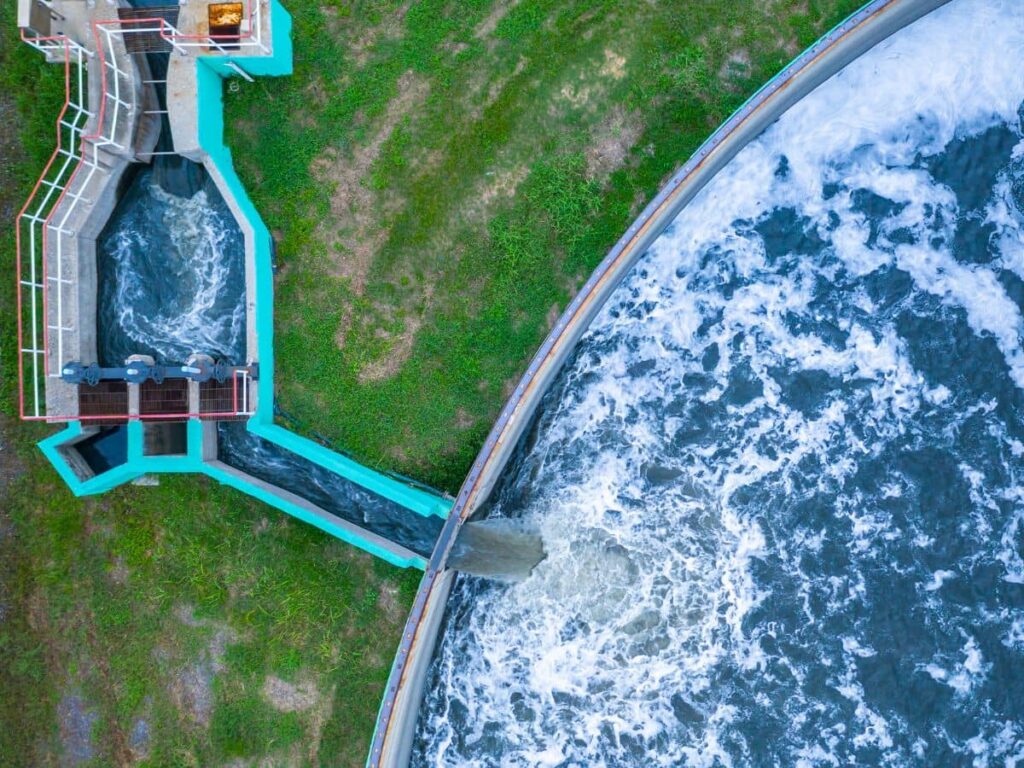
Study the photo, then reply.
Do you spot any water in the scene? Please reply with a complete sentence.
Yes, there is water in the image.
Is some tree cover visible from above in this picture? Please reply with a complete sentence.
No, tree cover can't be seen anywhere here.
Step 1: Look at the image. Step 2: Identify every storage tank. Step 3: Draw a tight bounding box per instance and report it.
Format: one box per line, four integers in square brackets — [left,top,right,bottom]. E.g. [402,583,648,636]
[367,0,964,768]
